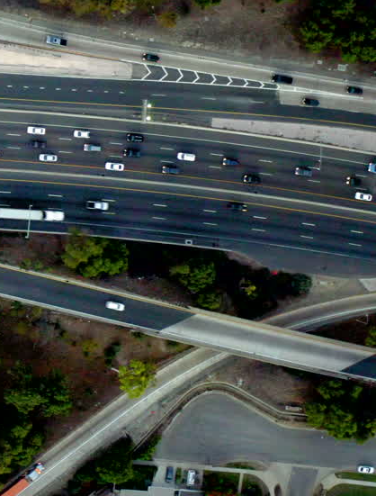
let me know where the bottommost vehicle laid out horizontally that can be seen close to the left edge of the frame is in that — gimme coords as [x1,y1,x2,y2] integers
[0,208,64,222]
